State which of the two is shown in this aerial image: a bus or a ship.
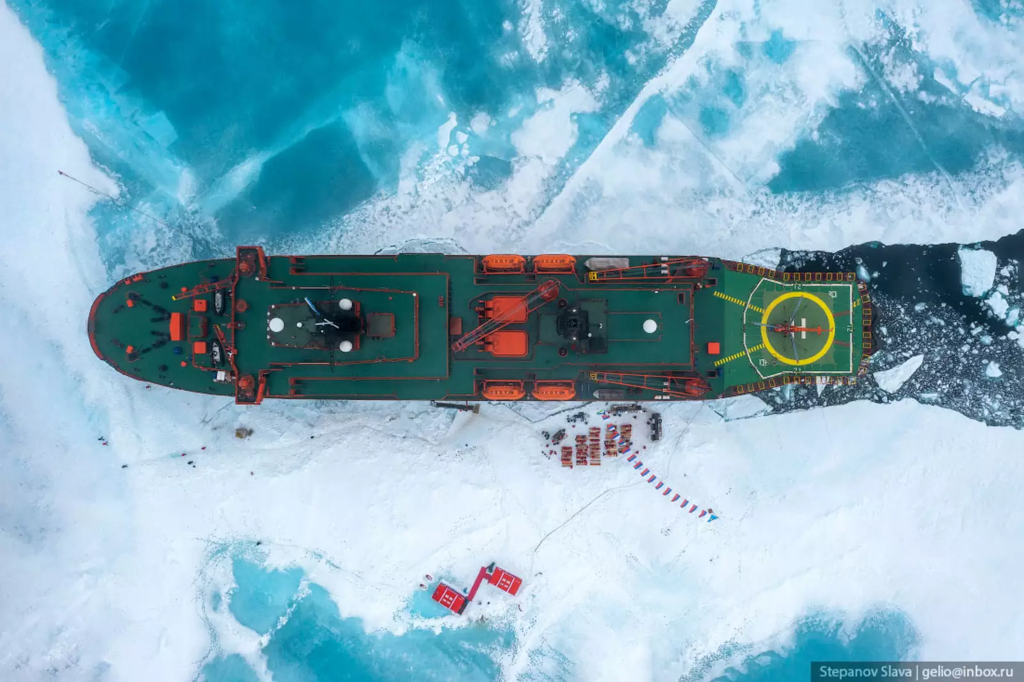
ship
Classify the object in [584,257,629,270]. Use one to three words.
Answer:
boat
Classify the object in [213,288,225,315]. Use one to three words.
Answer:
boat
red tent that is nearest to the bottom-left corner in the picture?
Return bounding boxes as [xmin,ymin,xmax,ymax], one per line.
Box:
[432,580,466,612]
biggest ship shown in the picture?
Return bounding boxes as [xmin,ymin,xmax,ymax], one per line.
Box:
[87,246,882,404]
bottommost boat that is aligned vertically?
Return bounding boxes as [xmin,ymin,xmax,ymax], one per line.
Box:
[211,339,223,367]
